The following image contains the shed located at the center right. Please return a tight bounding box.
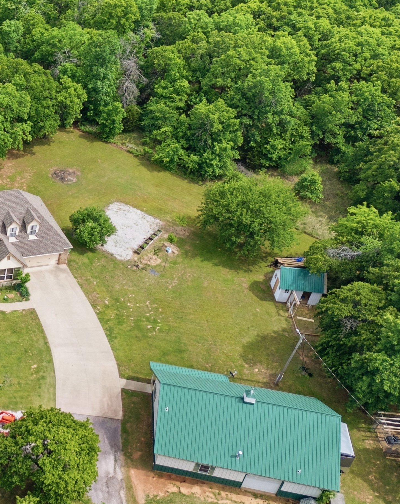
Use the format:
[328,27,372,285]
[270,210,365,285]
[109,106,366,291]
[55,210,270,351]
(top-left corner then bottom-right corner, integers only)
[269,267,325,305]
